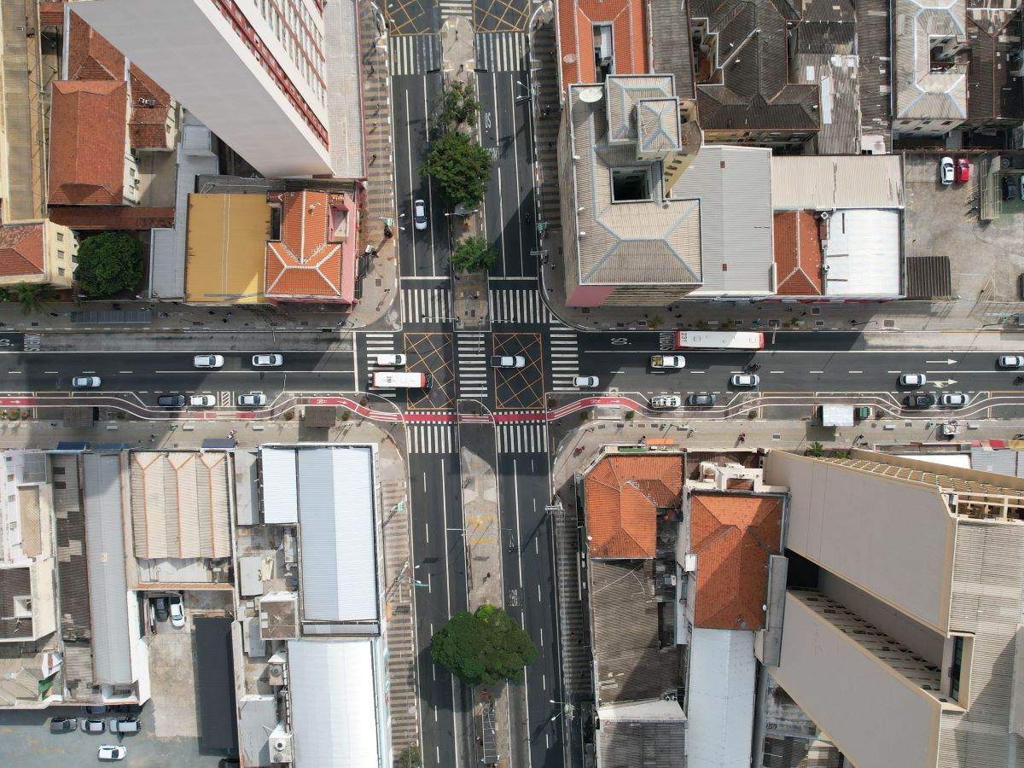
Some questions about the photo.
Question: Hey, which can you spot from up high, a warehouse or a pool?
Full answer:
This aerial view contains a warehouse.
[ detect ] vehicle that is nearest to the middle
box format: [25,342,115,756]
[491,354,525,368]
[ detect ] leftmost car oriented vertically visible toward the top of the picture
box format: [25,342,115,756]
[413,199,427,230]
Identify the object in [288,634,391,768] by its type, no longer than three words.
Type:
building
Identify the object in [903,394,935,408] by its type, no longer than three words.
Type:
vehicle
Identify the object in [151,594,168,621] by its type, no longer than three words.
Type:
car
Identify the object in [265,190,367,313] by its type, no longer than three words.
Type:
house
